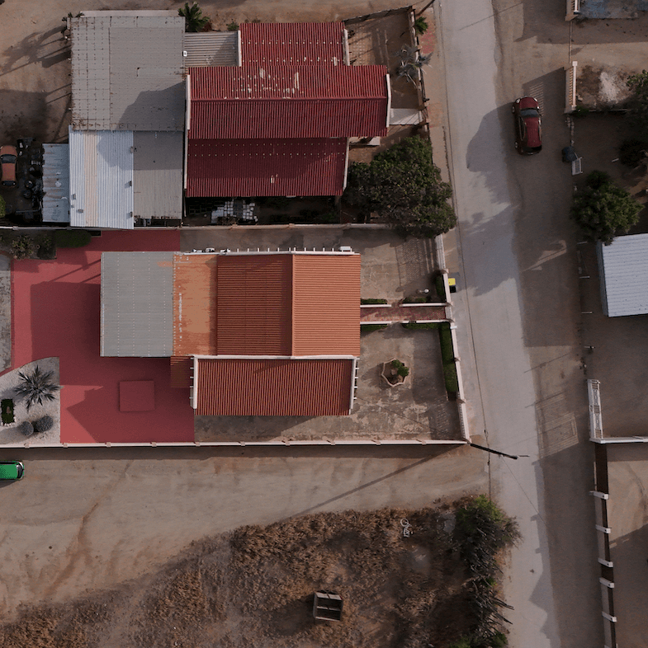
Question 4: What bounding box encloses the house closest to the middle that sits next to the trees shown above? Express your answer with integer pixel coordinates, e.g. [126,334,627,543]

[171,248,360,416]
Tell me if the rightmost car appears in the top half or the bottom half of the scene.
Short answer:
top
